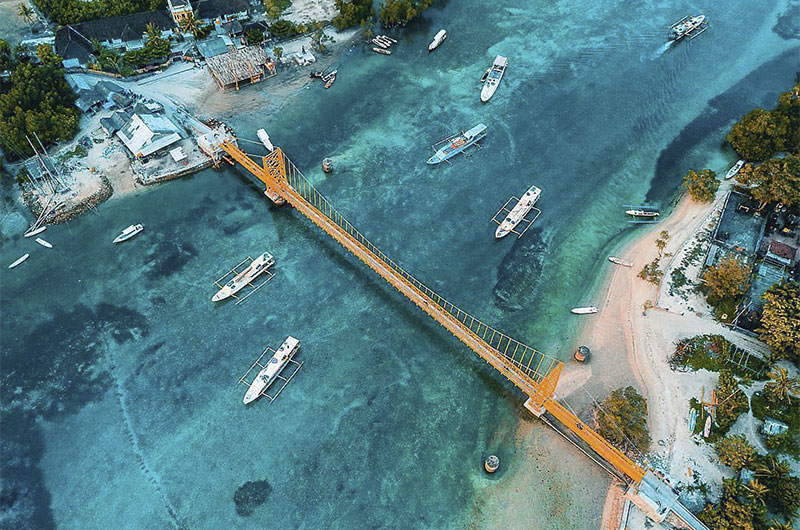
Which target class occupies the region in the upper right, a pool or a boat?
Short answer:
boat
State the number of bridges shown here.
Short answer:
1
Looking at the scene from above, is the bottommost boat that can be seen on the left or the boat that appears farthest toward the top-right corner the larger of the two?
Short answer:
the bottommost boat that can be seen on the left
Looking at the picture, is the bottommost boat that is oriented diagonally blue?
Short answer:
No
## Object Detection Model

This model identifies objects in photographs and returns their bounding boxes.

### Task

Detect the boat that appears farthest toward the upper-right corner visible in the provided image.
[662,14,718,42]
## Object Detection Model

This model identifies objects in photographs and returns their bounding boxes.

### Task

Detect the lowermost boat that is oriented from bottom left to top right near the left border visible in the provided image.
[8,252,30,268]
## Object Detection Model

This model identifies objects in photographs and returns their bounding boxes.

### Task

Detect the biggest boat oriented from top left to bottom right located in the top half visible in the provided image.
[255,125,276,155]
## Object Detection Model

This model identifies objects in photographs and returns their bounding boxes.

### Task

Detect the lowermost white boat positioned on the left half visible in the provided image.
[232,332,309,409]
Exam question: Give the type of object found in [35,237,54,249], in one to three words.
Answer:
boat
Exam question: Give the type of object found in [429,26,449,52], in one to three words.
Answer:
boat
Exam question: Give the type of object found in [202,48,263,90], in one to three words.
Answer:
building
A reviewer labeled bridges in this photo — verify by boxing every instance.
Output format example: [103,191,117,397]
[212,136,651,482]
